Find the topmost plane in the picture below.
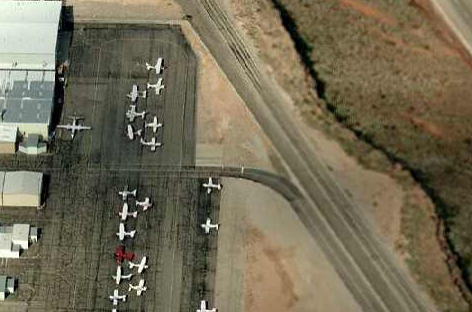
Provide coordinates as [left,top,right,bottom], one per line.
[146,56,164,72]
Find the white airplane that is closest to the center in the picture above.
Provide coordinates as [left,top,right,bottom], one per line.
[203,178,223,193]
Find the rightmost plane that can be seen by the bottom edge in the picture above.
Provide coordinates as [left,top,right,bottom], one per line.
[196,300,217,312]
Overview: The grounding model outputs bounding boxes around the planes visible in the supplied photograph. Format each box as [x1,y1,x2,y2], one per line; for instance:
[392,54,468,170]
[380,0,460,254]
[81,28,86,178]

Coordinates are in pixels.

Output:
[142,118,162,132]
[132,197,153,212]
[118,186,138,201]
[129,84,148,100]
[119,201,140,218]
[126,280,147,296]
[201,219,221,234]
[128,254,148,272]
[112,266,132,283]
[126,107,145,122]
[58,111,91,133]
[146,79,165,93]
[116,221,136,238]
[140,137,160,152]
[146,56,164,72]
[109,290,130,306]
[115,245,134,262]
[196,300,217,312]
[203,178,223,193]
[124,123,145,139]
